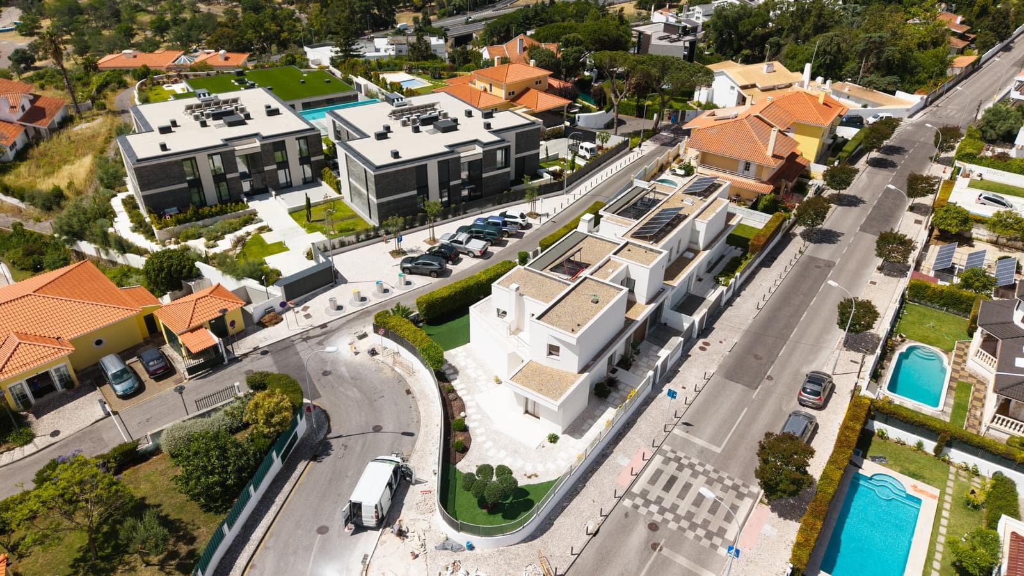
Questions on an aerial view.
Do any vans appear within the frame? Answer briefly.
Yes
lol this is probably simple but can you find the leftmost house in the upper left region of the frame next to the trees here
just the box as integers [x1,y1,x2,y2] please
[0,80,67,157]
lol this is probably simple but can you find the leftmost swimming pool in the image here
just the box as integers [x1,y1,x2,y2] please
[296,97,384,130]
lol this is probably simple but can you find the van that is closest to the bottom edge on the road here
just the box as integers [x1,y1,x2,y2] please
[341,455,403,532]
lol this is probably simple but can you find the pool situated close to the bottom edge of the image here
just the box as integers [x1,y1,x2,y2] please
[814,466,928,576]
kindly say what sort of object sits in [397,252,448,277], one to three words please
car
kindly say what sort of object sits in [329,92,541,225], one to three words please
building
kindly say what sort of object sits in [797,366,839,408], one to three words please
car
